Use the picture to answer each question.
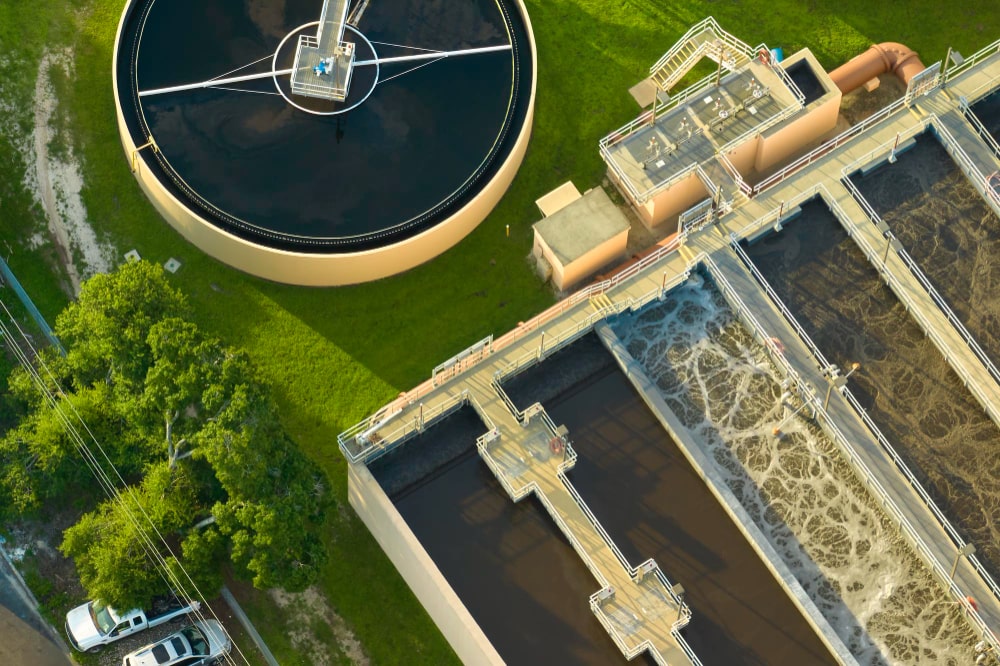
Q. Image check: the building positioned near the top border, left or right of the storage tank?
to the right of it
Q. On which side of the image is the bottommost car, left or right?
left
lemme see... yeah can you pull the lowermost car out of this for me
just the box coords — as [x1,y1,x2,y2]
[123,618,236,666]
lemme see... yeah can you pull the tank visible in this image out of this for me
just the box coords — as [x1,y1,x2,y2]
[113,0,537,285]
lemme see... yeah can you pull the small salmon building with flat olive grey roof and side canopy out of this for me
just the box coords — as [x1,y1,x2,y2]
[532,180,631,287]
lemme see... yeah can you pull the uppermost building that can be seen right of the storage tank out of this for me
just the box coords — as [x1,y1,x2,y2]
[598,15,841,230]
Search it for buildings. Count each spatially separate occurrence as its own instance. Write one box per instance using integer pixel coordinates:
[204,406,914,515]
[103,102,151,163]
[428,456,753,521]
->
[532,180,631,287]
[598,15,841,230]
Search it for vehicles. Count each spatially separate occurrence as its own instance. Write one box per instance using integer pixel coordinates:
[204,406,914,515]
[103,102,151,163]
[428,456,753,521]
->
[123,618,236,666]
[63,567,207,656]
